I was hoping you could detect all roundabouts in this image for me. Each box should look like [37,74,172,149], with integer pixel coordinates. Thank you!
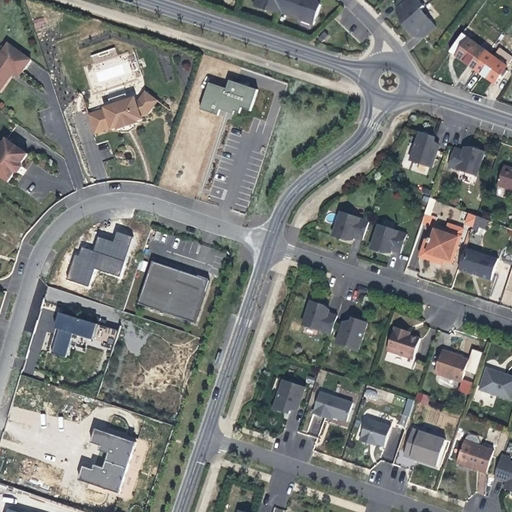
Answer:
[372,64,408,98]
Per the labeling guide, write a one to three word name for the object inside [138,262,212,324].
building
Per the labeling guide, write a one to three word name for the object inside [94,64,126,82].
swimming pool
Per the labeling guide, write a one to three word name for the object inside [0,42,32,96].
house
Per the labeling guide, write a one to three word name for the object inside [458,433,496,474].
house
